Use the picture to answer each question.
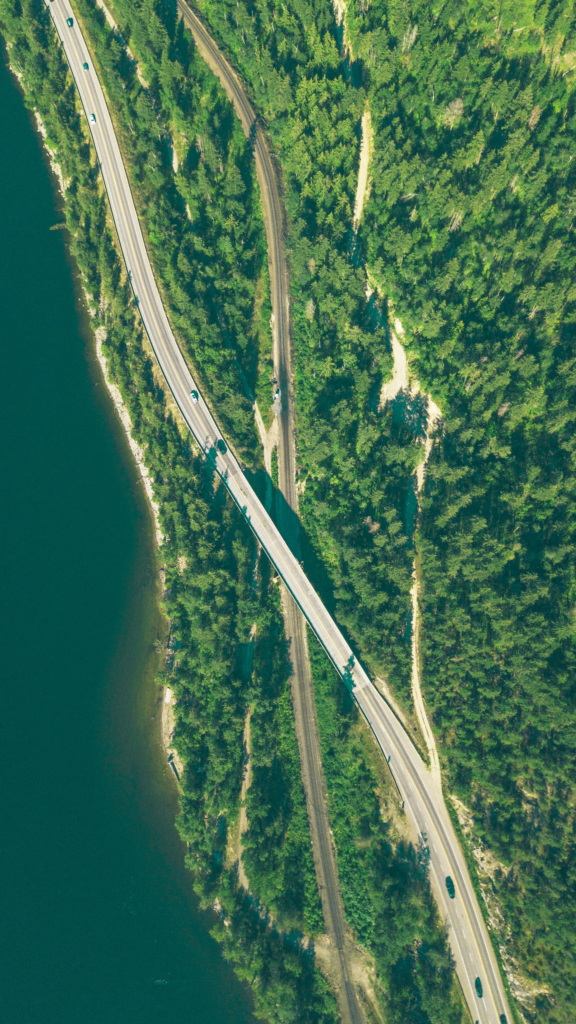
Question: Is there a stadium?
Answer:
No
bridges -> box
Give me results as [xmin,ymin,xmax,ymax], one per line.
[220,466,370,694]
